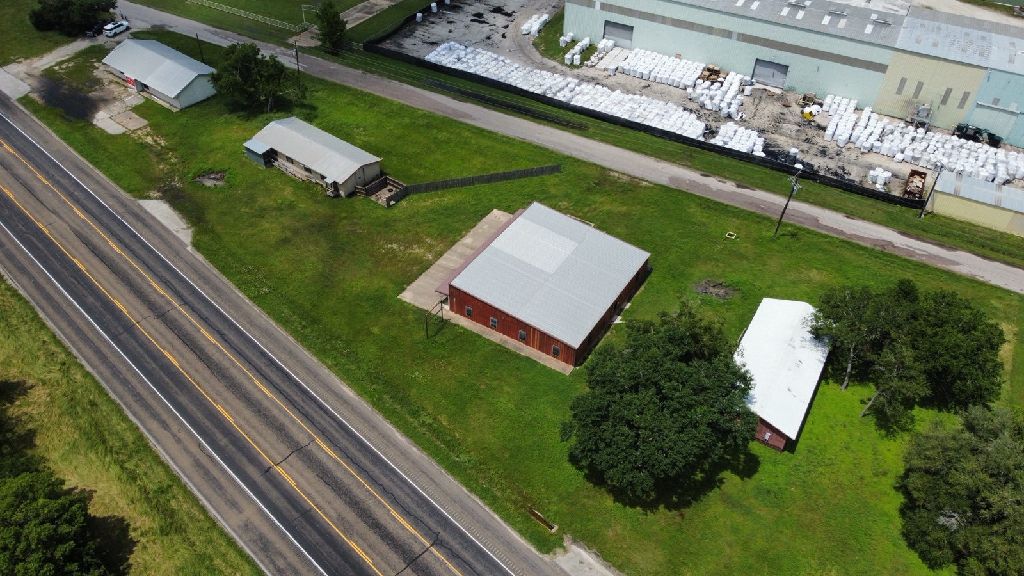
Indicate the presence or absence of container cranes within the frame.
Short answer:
No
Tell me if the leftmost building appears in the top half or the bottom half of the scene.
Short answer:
top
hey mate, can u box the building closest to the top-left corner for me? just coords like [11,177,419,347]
[102,39,214,108]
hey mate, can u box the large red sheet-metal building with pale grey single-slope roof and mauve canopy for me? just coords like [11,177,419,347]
[435,199,650,366]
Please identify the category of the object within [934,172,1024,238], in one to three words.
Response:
shed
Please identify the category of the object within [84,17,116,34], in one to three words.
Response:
vehicle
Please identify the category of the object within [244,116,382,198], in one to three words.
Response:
house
